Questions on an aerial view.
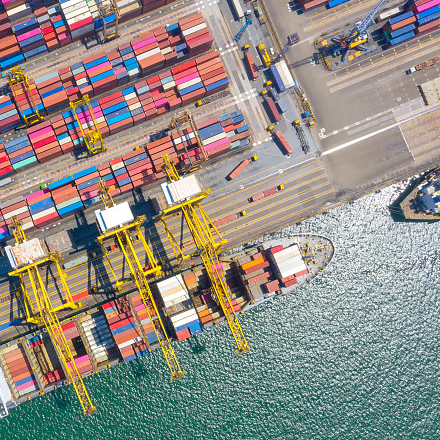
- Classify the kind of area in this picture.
port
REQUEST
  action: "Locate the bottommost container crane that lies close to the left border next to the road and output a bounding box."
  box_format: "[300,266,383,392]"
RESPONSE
[1,215,95,417]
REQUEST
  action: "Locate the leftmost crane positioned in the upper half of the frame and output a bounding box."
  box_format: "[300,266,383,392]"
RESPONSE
[0,60,49,129]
